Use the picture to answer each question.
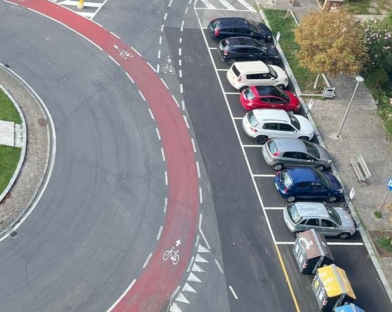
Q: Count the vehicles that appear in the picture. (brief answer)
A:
8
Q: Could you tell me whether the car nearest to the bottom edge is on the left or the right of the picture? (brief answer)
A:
right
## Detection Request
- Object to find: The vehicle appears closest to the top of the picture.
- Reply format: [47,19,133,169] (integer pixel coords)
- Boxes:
[205,11,273,41]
